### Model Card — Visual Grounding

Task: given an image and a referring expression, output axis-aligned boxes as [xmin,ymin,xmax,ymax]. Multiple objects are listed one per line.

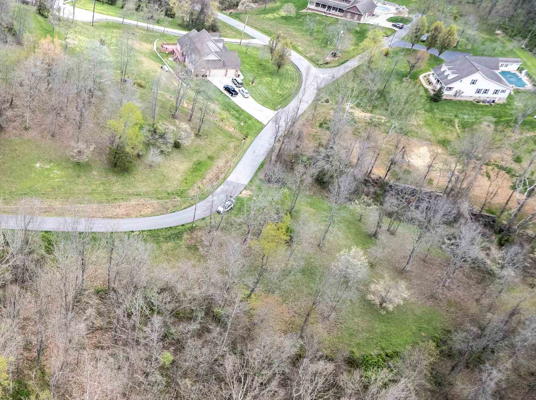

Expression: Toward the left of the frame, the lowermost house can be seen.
[161,25,243,77]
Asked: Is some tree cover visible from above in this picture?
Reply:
Yes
